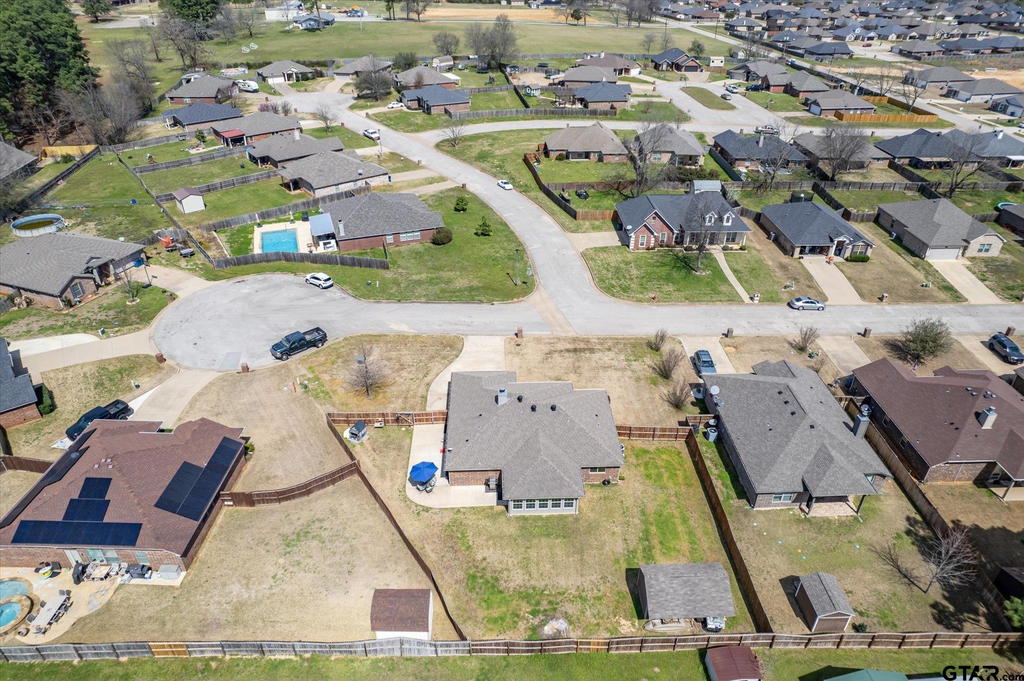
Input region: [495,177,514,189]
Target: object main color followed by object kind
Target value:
white vehicle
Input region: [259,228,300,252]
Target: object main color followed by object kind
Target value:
blue swimming pool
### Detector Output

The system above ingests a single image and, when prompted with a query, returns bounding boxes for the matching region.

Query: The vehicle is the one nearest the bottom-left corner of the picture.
[65,398,129,438]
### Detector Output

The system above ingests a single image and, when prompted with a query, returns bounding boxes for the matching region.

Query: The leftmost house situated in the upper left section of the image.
[0,153,40,191]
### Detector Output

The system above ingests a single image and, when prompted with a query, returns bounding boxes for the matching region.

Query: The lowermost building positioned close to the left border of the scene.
[0,415,249,577]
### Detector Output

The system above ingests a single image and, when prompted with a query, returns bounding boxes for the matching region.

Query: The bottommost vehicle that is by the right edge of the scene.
[987,331,1024,360]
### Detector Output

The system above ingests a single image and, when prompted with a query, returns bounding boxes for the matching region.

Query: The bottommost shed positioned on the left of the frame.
[370,587,435,658]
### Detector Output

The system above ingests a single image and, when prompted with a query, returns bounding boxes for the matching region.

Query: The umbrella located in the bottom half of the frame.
[409,462,438,487]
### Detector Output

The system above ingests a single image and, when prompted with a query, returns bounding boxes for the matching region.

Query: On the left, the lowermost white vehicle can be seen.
[303,272,333,288]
